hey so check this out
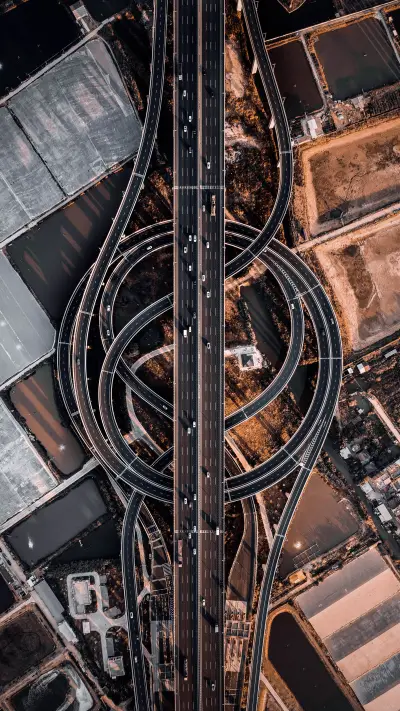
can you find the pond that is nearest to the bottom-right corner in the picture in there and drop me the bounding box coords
[271,614,358,711]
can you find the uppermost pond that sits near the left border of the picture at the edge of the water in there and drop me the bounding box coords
[0,0,80,90]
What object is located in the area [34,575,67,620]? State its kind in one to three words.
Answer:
building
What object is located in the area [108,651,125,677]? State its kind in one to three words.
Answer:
building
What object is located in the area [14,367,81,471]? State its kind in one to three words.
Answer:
pond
